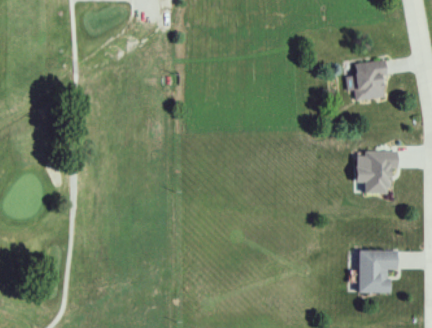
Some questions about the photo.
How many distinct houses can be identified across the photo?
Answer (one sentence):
The count of houses comes to 3.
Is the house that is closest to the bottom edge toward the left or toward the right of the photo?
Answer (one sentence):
It is on the right.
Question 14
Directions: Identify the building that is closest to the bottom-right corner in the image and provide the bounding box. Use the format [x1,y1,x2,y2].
[350,250,399,294]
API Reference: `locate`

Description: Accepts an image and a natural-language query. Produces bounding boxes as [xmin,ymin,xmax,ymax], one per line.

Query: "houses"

[350,250,399,294]
[346,62,388,100]
[358,151,400,194]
